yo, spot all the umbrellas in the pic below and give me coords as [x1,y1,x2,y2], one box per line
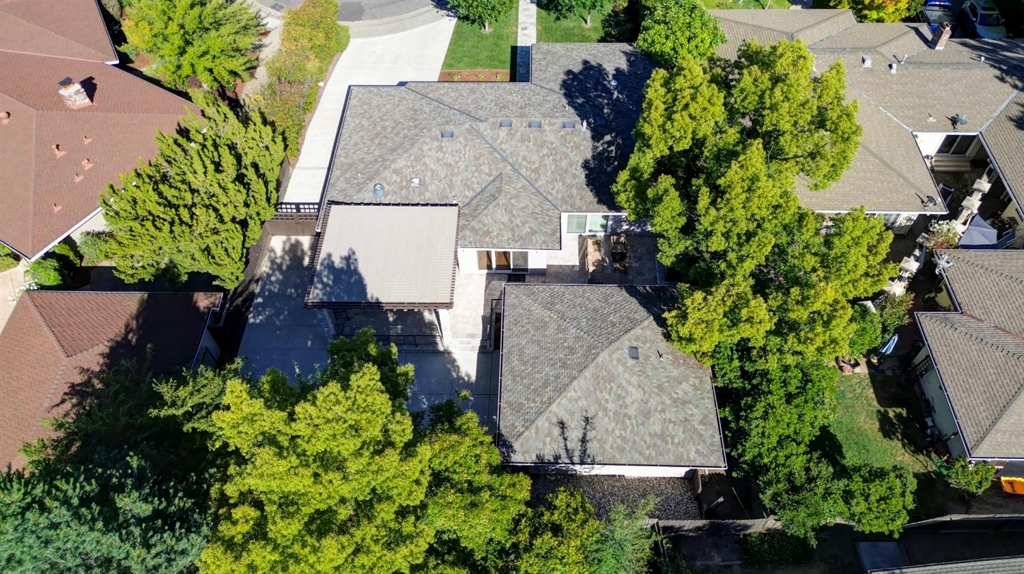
[869,331,901,366]
[955,214,1004,248]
